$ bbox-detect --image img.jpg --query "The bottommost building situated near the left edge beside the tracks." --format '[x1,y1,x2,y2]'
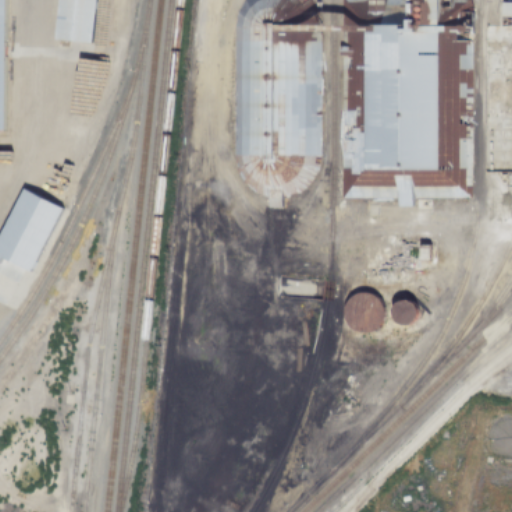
[0,188,65,270]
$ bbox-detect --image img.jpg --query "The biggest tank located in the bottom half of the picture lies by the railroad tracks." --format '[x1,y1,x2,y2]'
[344,292,388,332]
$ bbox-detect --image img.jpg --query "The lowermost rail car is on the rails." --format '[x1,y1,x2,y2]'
[142,300,155,342]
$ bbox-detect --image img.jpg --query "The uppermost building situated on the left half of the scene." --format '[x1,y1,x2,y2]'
[55,0,97,43]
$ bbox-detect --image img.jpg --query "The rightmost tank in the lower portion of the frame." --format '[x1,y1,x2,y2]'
[392,298,432,326]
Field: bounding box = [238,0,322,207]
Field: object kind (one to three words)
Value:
building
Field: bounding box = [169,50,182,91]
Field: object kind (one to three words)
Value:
rail car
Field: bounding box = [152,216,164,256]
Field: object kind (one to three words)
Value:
rail car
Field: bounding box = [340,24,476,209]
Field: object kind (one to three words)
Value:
building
